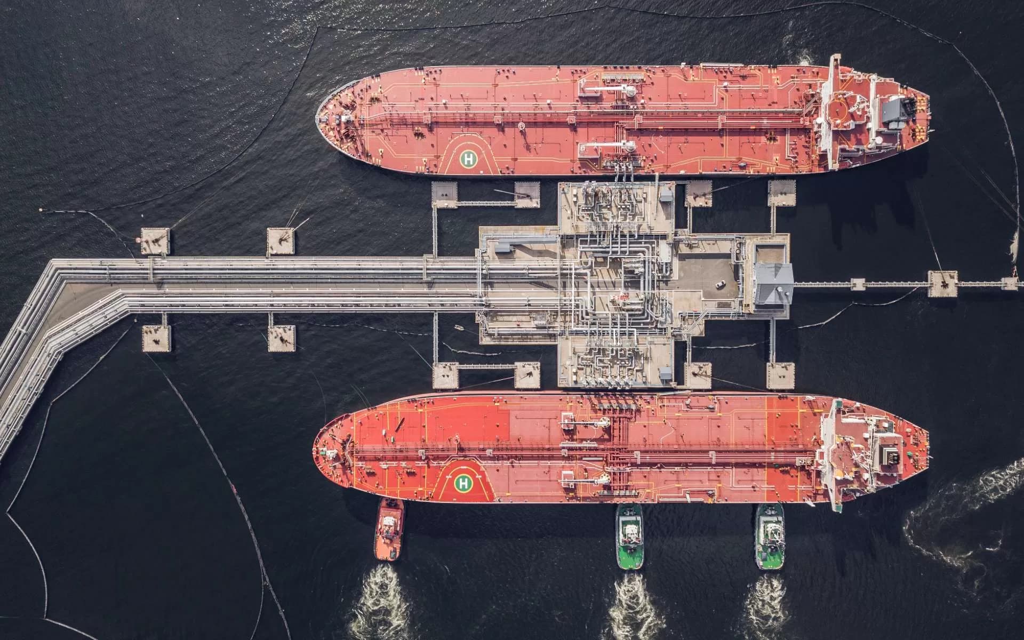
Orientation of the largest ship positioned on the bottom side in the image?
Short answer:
from side to side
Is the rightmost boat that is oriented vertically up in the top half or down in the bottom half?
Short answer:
bottom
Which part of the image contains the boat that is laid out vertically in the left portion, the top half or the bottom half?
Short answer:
bottom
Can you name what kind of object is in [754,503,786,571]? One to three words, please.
boat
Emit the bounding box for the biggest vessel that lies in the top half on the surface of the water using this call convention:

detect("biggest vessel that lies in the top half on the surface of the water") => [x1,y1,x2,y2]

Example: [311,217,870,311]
[315,54,936,180]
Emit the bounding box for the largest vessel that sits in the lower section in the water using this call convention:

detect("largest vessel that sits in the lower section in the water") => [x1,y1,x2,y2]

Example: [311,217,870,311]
[312,391,935,511]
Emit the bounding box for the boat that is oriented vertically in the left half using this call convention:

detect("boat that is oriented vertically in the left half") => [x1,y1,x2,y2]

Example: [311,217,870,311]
[373,496,406,563]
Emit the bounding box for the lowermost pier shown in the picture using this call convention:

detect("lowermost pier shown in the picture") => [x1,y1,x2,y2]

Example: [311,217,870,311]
[475,226,790,346]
